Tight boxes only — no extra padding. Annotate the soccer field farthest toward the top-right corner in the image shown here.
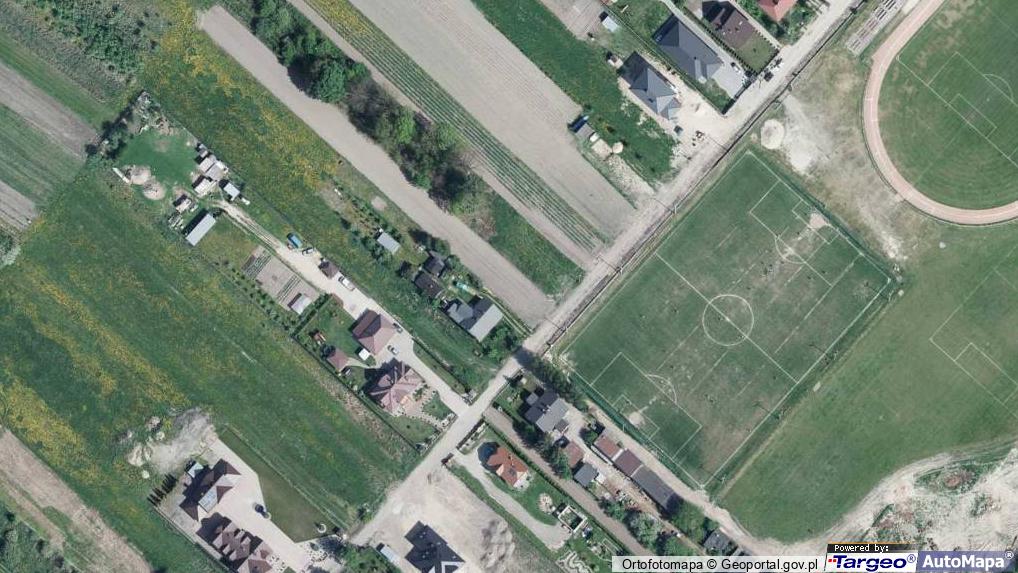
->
[877,0,1018,211]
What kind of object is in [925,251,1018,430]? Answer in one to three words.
soccer field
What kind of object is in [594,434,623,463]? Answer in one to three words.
building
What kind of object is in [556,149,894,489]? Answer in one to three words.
soccer field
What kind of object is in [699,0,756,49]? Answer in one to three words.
house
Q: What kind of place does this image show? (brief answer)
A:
sports ground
